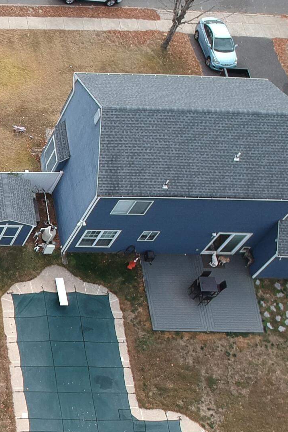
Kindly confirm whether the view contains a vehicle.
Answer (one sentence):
Yes, I can see a vehicle in this picture.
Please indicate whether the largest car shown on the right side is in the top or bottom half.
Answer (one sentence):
The largest car shown on the right side sits in the top half of the picture.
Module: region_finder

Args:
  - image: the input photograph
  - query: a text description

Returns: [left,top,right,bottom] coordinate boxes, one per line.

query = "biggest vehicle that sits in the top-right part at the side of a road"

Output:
[196,7,252,67]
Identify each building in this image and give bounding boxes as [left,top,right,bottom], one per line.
[38,69,288,284]
[0,171,36,248]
